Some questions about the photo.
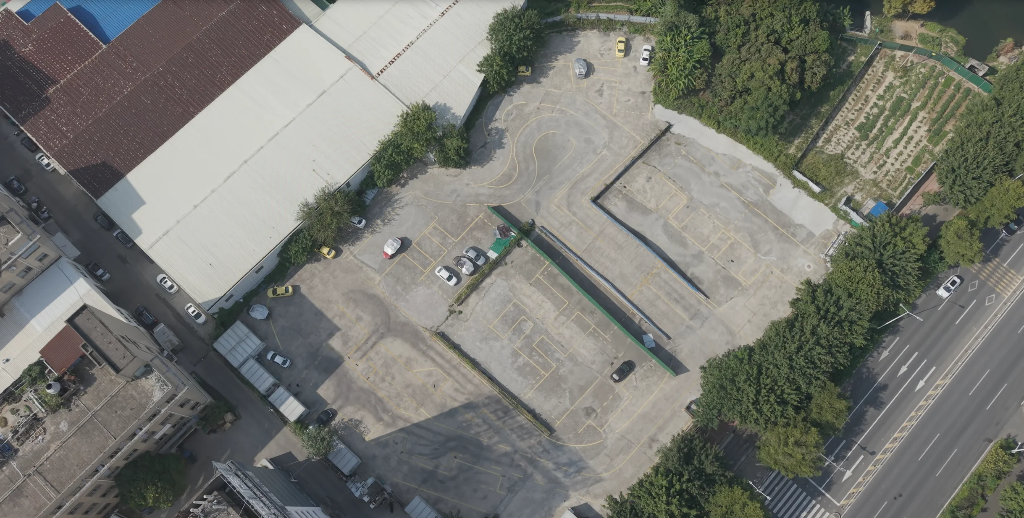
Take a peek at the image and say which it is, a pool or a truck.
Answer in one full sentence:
It is a truck that can be seen here.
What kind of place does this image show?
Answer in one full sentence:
This image shows an industrial area.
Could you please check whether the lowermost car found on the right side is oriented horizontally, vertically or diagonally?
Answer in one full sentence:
The lowermost car found on the right side runs diagonally in the image.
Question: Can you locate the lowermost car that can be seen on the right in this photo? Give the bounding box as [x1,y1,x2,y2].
[608,358,636,384]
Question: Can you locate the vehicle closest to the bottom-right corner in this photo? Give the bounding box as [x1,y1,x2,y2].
[936,273,964,298]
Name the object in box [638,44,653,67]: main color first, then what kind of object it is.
white car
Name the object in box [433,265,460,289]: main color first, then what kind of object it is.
white car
